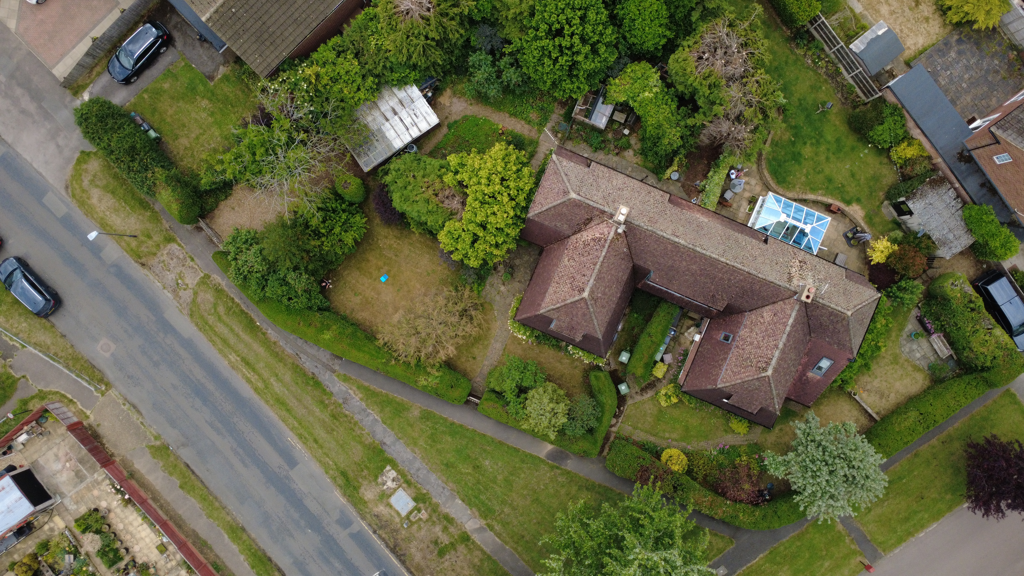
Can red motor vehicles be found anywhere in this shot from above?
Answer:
No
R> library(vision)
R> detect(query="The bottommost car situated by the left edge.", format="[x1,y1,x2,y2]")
[0,251,70,322]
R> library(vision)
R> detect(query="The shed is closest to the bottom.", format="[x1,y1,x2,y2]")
[0,463,62,545]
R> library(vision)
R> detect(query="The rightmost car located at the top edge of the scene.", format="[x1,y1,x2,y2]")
[105,15,178,88]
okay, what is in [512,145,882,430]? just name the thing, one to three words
house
